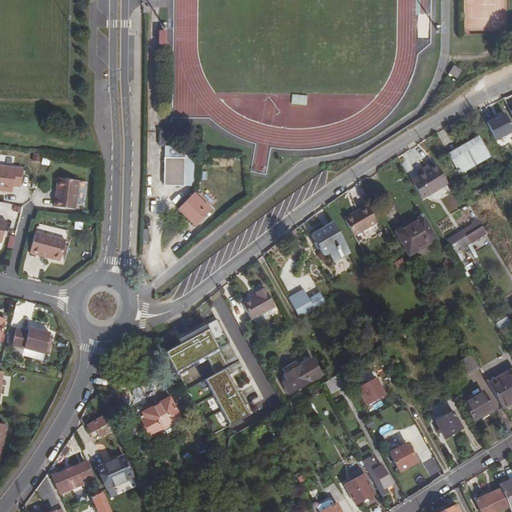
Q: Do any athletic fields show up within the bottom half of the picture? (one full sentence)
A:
No, within the bottom half of the picture there is no athletic field.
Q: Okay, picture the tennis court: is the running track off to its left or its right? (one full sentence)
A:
The running track can be seen on the left of the tennis court.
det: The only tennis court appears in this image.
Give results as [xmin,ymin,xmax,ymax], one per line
[464,0,507,32]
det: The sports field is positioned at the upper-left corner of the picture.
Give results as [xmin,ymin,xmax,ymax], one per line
[0,0,68,98]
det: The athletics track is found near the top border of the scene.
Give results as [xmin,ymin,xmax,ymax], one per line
[174,0,430,173]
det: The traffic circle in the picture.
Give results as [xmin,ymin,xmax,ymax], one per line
[36,256,172,355]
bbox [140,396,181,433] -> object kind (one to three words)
house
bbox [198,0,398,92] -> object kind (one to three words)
sports field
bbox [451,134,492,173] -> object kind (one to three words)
barn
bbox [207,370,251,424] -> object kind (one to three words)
building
